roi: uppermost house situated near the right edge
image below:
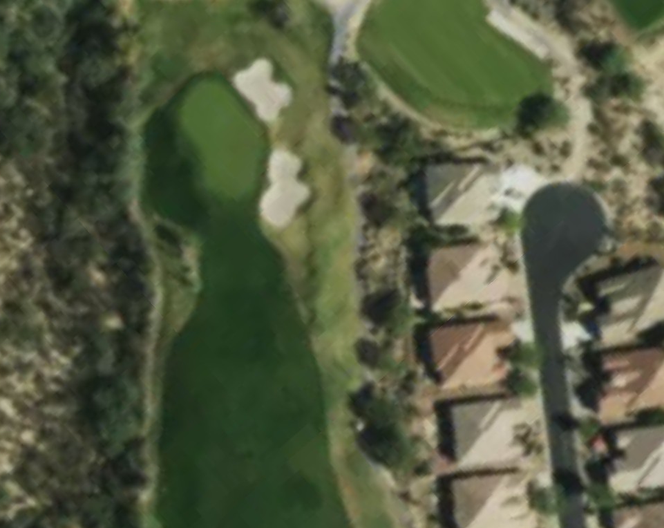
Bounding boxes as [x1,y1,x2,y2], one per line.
[593,267,664,343]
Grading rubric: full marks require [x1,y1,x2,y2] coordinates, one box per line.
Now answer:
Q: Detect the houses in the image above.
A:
[453,475,536,528]
[449,402,528,466]
[611,429,664,492]
[426,243,507,314]
[615,505,664,528]
[598,349,664,420]
[424,164,499,230]
[431,323,514,389]
[593,267,664,343]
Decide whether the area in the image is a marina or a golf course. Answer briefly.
golf course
